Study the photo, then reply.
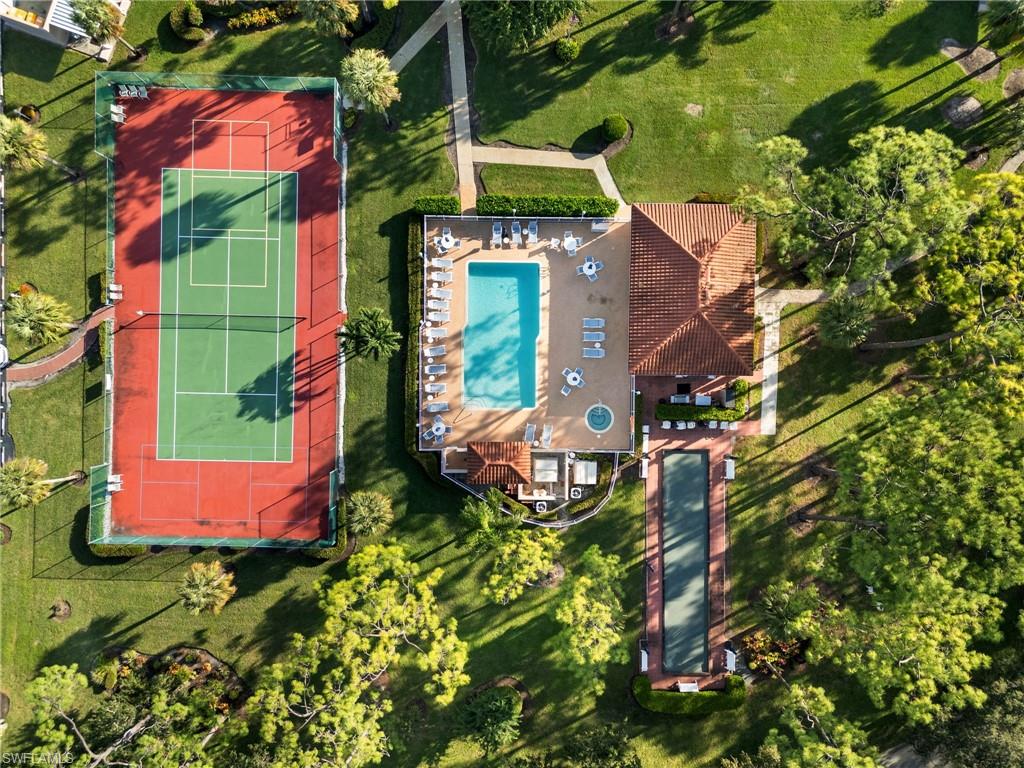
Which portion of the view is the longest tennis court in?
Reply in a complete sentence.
Look in the left portion of the view to spot the longest tennis court.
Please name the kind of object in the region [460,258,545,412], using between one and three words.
swimming pool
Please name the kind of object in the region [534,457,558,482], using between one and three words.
shed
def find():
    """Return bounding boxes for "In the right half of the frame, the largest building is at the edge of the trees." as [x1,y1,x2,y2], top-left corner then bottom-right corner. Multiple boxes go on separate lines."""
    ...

[628,202,756,377]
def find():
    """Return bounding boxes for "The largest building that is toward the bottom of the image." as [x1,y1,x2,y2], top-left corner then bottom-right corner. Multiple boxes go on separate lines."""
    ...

[465,441,533,486]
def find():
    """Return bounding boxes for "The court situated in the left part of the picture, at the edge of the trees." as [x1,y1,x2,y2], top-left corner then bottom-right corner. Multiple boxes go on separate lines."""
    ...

[107,87,347,541]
